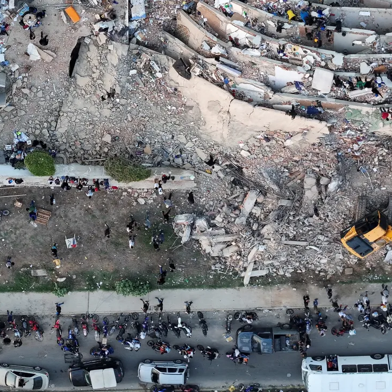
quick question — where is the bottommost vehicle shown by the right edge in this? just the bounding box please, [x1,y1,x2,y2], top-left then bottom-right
[301,355,392,392]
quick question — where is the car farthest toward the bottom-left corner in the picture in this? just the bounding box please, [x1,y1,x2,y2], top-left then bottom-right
[0,364,49,391]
